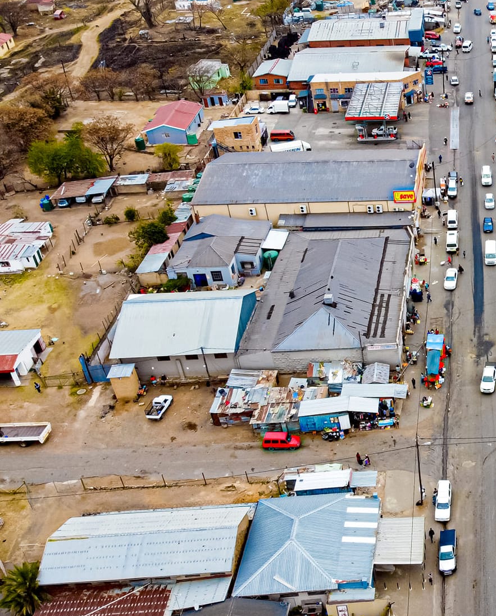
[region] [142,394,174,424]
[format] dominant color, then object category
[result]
white truck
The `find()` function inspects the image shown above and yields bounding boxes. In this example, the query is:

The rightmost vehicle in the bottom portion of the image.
[480,363,496,394]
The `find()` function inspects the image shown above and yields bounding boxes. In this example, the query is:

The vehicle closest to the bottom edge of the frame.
[436,531,458,575]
